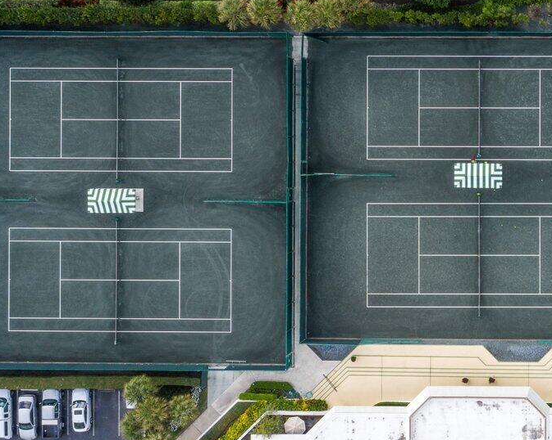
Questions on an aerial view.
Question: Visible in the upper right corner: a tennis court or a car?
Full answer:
The feature located in the upper right corner is a tennis court.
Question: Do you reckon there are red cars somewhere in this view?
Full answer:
No, the scene contains no red car.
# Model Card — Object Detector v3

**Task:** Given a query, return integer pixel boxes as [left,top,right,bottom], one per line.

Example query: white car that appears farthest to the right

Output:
[70,388,94,433]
